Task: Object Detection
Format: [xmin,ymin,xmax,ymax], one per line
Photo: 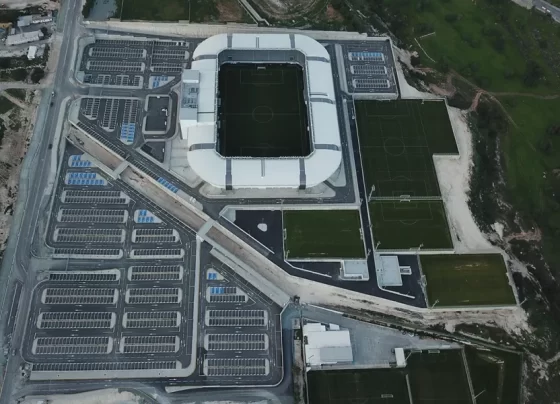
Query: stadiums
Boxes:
[179,32,343,194]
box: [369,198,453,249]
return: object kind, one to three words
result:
soccer field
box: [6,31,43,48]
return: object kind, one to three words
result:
building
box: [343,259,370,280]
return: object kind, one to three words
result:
building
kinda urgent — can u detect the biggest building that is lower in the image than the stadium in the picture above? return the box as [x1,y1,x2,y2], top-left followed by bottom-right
[302,323,353,366]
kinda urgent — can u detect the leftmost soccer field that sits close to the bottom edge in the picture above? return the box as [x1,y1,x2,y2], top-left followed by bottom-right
[306,367,411,404]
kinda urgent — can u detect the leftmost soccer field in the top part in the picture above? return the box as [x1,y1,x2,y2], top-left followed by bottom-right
[217,65,312,158]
